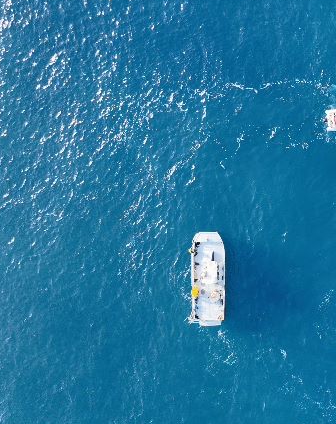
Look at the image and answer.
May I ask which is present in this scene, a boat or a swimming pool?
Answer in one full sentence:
Of the two, only a boat appears.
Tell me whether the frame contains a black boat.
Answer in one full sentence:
No, no black boat can be seen from above.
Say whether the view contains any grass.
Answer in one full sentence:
No, there is no grass in the image.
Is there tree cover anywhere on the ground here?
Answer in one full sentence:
No, the picture contains no tree cover.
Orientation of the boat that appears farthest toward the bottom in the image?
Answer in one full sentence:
The boat that appears farthest toward the bottom is laid out vertically.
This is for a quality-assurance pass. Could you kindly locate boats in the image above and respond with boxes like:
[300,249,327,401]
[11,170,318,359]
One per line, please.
[189,233,227,327]
[321,109,336,132]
